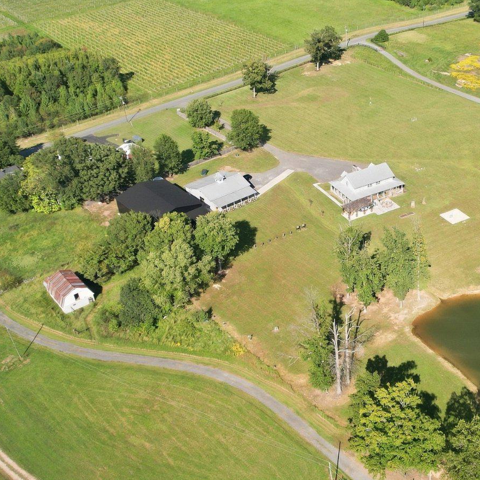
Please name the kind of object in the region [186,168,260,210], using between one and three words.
shed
